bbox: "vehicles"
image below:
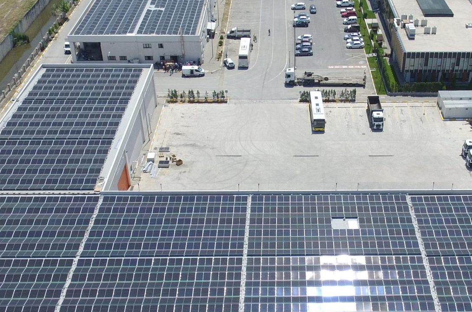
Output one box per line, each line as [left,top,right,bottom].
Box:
[224,59,235,69]
[239,39,252,65]
[346,41,365,49]
[343,23,361,31]
[341,15,359,24]
[59,37,71,54]
[296,38,313,44]
[309,5,316,13]
[367,98,386,128]
[341,10,356,17]
[294,12,310,18]
[228,26,250,38]
[336,0,354,6]
[343,31,362,38]
[346,36,364,43]
[178,63,206,76]
[339,6,355,12]
[297,33,313,40]
[294,16,311,23]
[291,1,307,9]
[295,42,313,50]
[308,89,324,126]
[293,21,309,27]
[294,48,313,56]
[284,71,366,90]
